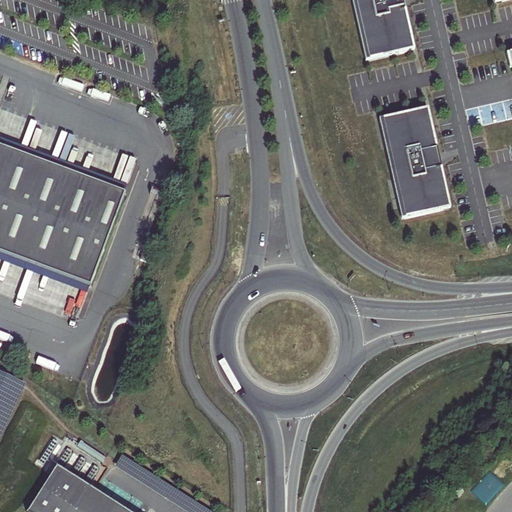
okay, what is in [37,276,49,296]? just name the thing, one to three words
vehicle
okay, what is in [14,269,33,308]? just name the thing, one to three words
vehicle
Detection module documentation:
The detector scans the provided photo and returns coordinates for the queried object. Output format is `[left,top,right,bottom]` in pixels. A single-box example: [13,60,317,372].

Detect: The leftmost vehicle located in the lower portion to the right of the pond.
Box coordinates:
[220,358,244,398]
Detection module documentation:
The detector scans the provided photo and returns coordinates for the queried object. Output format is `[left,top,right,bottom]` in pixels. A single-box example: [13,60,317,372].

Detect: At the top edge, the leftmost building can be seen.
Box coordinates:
[350,0,414,62]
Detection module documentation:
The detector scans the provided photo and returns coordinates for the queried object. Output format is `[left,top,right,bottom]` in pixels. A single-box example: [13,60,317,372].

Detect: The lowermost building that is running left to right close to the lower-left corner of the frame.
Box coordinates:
[26,464,132,512]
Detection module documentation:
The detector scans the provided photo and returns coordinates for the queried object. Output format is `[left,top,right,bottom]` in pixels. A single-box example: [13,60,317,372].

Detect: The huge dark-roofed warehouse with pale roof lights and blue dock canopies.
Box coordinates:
[0,137,127,294]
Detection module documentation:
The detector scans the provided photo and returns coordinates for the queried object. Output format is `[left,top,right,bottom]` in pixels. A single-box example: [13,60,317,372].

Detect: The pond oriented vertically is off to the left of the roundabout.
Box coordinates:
[87,313,134,410]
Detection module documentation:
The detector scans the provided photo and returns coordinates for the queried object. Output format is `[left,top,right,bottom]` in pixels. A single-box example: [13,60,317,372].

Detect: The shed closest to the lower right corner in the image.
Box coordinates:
[471,472,506,506]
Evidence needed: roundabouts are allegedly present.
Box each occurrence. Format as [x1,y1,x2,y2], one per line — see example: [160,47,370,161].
[212,268,363,419]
